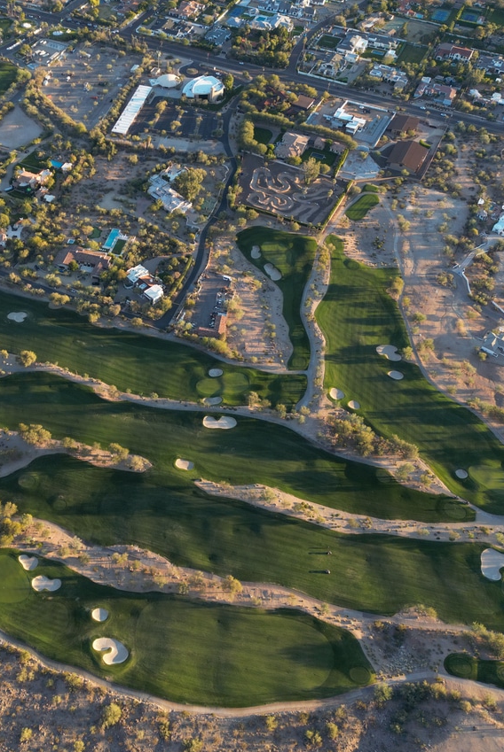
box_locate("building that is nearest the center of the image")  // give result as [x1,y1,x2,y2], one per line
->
[197,317,230,342]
